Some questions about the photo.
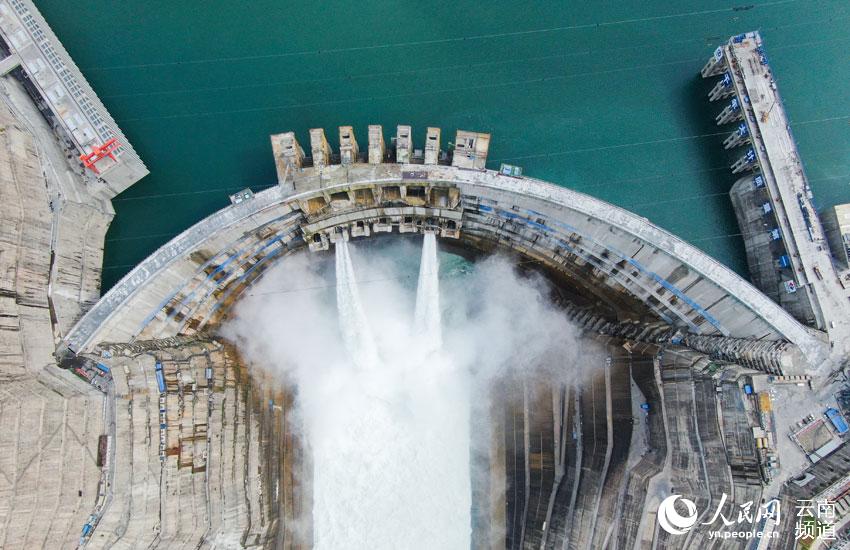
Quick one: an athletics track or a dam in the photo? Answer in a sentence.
Visible in the photo is a dam.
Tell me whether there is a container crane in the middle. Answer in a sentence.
No, I see no container crane in the middle.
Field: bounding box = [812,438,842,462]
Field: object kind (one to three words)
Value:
shed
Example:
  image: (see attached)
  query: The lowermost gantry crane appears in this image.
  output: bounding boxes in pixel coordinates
[75,139,118,177]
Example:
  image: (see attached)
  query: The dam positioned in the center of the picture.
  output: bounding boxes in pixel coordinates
[58,124,833,368]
